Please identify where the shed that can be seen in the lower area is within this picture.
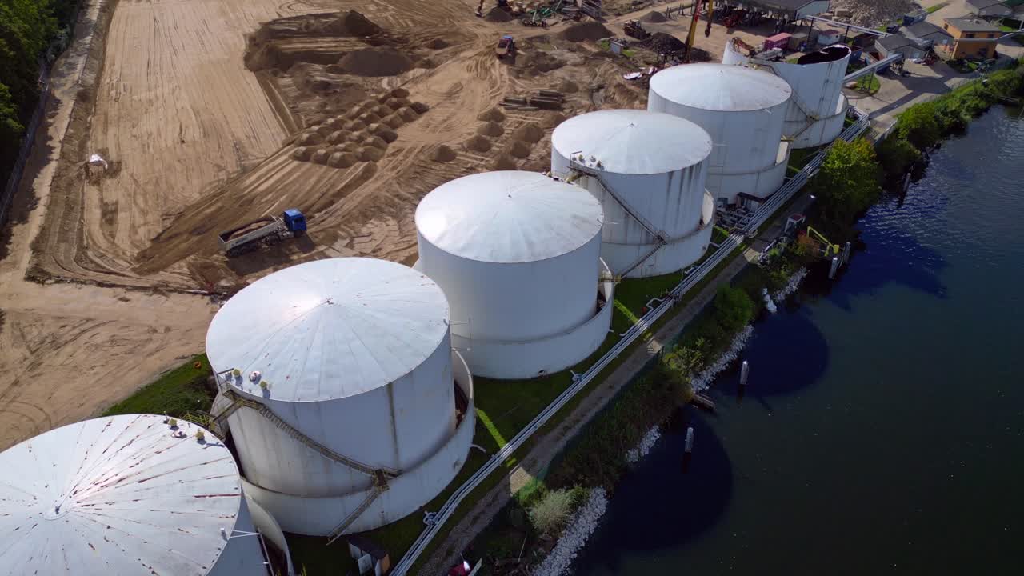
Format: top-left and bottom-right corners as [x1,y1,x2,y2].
[346,525,394,574]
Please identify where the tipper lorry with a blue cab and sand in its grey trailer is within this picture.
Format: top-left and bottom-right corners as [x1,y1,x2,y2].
[210,208,305,256]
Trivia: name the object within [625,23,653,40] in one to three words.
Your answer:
work vehicle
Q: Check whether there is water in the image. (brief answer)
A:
Yes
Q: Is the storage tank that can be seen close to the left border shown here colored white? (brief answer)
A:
Yes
